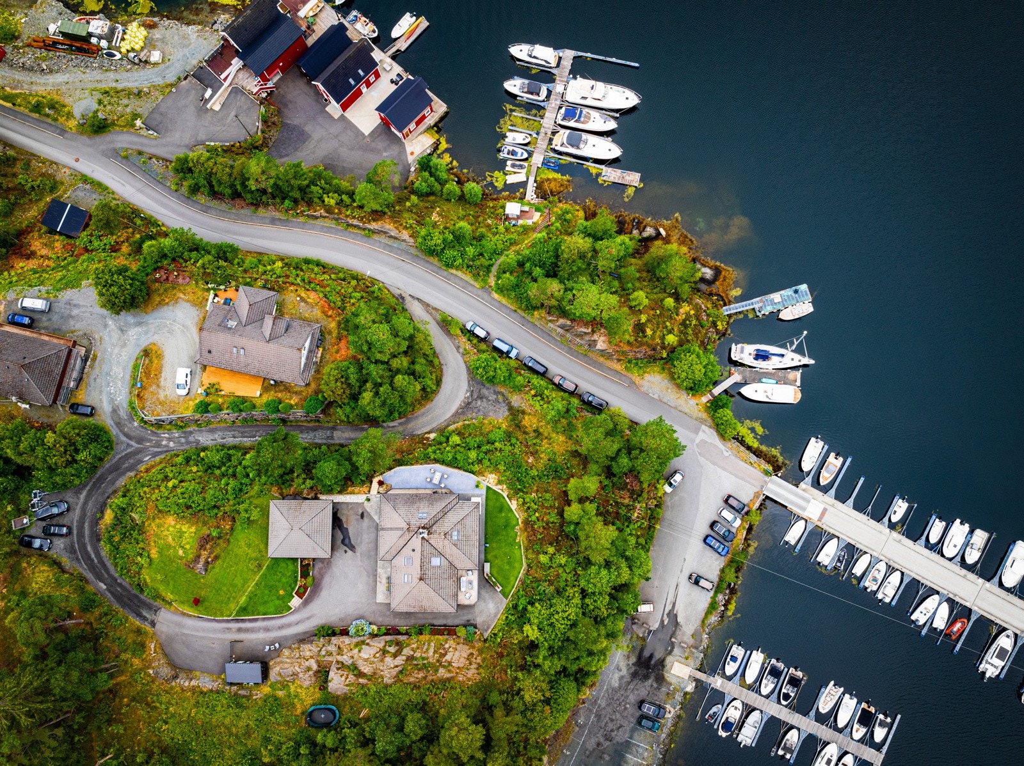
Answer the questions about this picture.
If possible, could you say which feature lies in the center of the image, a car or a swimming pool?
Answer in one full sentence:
Looking in the center of the image, you will find a car.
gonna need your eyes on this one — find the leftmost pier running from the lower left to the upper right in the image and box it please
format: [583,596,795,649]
[388,16,430,54]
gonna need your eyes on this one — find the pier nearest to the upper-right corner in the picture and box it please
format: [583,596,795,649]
[725,284,812,316]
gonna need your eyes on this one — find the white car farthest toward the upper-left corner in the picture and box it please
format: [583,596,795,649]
[18,297,51,312]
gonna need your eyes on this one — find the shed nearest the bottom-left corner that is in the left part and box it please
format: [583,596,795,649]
[226,662,265,683]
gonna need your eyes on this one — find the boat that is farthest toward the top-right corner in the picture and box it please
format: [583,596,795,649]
[778,299,815,318]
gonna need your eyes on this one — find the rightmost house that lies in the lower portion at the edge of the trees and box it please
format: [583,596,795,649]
[378,489,481,613]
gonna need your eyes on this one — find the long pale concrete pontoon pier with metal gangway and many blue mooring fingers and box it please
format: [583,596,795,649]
[763,446,1024,690]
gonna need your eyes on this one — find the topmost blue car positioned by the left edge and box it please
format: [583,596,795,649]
[5,312,36,327]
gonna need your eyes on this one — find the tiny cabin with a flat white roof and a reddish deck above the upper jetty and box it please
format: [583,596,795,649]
[505,202,541,225]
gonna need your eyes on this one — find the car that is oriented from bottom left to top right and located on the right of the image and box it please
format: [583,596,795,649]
[662,467,687,495]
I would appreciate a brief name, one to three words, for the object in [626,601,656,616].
vehicle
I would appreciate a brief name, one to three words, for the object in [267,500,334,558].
building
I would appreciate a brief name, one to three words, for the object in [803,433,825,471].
boat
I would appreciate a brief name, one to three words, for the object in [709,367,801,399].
pier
